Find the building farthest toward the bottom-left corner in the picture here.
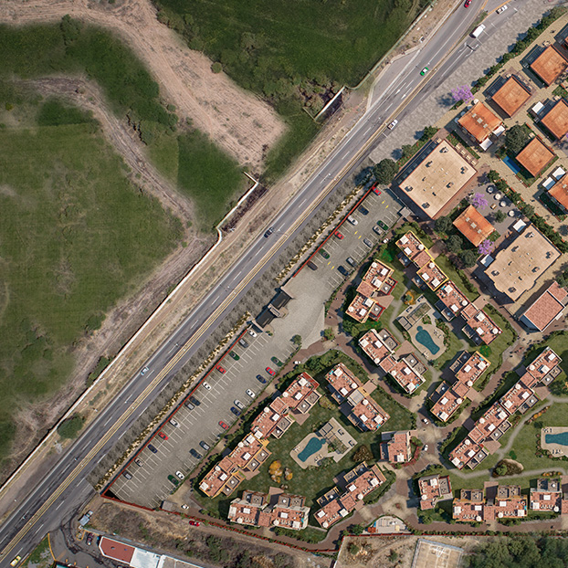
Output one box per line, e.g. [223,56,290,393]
[99,533,140,564]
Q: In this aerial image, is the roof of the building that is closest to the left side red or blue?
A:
red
